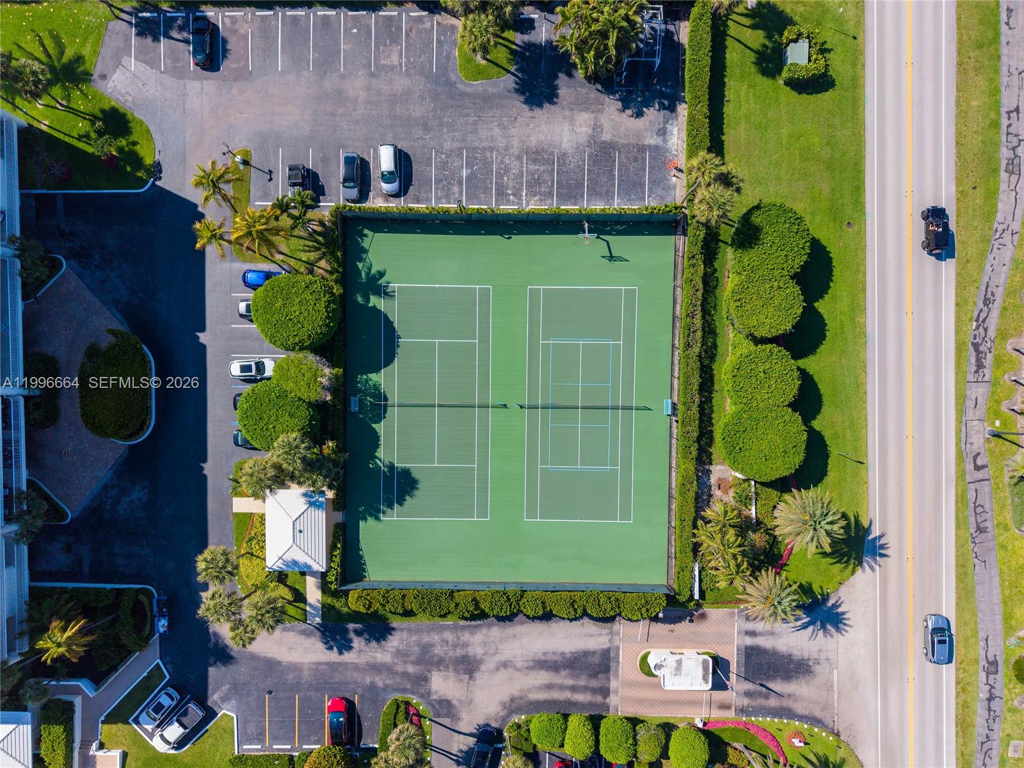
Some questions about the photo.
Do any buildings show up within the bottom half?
Yes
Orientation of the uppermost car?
up and down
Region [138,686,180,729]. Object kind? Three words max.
car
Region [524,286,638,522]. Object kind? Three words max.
tennis court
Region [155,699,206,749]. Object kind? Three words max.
truck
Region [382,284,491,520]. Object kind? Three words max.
tennis court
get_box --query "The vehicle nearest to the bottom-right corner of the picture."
[923,615,951,663]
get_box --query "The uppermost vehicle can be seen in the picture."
[188,18,215,70]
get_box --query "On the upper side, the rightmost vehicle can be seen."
[921,209,951,256]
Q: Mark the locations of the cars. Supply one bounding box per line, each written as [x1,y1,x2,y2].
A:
[339,152,362,204]
[241,267,283,289]
[921,209,951,256]
[286,156,311,199]
[236,301,251,320]
[554,753,572,768]
[923,615,951,663]
[232,393,241,411]
[233,432,259,452]
[138,686,180,729]
[376,143,400,197]
[230,358,274,380]
[188,18,215,70]
[326,697,349,746]
[473,721,496,768]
